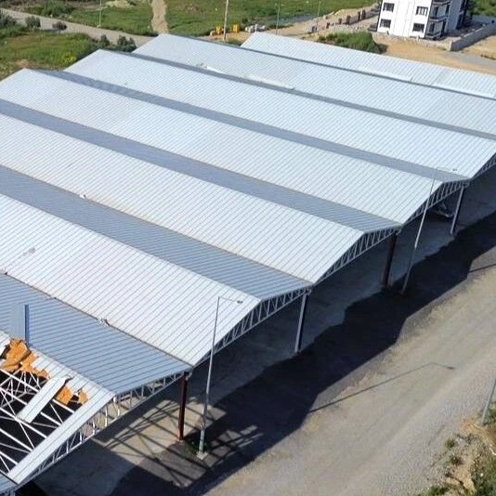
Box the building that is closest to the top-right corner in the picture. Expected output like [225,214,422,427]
[378,0,469,41]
